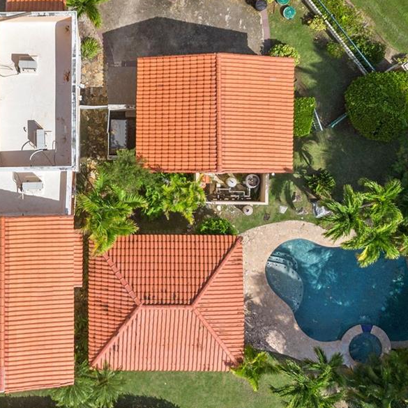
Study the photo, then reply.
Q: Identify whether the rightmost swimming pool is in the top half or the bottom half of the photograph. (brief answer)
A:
bottom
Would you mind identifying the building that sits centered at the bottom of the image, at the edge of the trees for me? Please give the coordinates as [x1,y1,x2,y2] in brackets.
[87,233,246,372]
